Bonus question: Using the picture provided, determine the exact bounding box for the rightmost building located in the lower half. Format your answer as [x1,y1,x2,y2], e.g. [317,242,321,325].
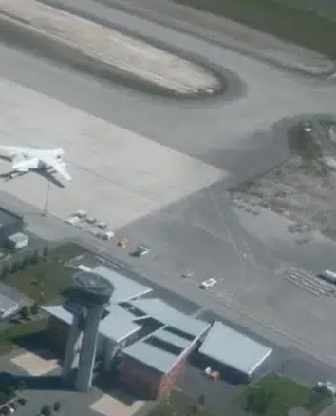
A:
[198,321,274,384]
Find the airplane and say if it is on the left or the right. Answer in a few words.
left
